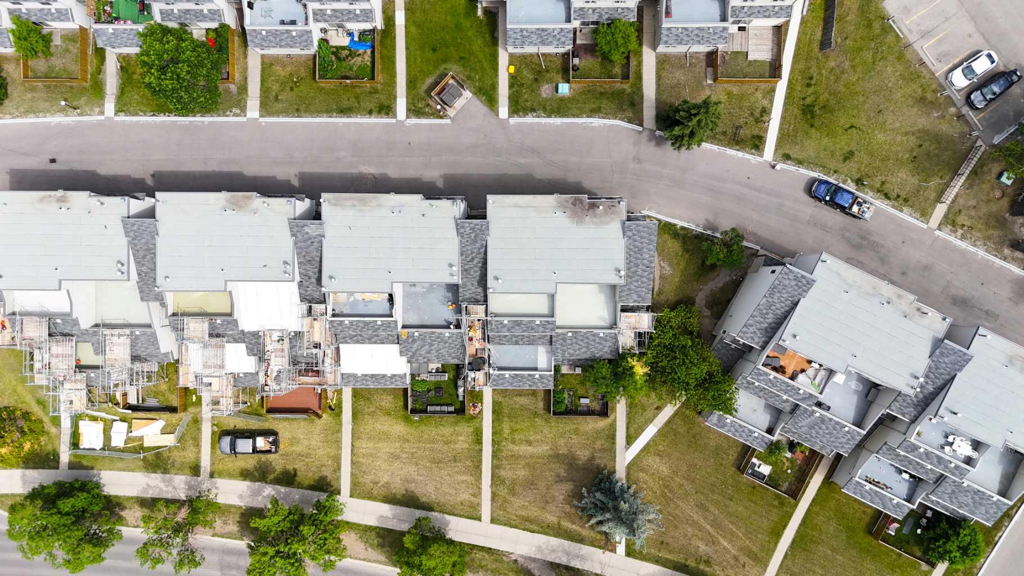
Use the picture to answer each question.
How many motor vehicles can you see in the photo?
four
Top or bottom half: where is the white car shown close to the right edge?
top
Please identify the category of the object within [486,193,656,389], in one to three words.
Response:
house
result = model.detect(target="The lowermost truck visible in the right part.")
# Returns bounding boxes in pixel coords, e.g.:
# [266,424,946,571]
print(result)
[806,178,876,224]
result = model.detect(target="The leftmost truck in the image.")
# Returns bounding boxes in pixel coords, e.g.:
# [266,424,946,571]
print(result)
[220,431,282,457]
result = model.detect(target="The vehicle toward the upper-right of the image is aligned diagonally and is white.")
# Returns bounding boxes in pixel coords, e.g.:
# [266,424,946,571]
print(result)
[943,48,998,90]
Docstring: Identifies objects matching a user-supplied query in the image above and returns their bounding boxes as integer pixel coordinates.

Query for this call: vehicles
[220,431,282,457]
[965,69,1022,113]
[943,48,998,90]
[806,178,876,224]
